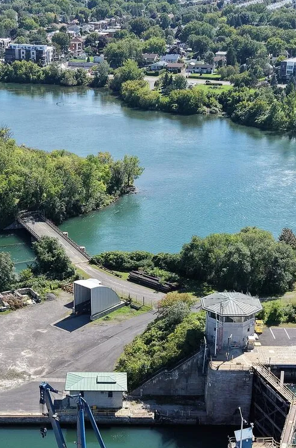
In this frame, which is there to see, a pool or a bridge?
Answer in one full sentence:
There is a bridge in the scene.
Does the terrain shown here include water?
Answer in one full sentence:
Yes, some water is visible.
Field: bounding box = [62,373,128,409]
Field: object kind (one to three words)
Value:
building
